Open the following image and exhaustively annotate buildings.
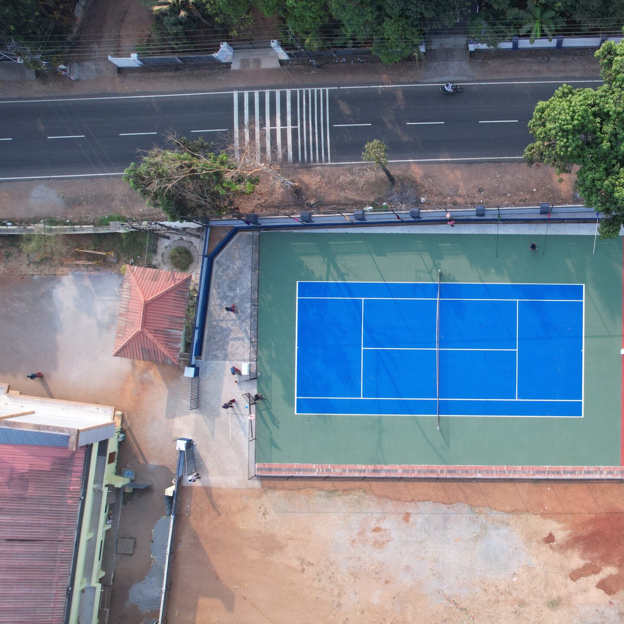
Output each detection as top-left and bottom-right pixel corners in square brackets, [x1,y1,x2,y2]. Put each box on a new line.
[111,265,194,366]
[0,382,151,624]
